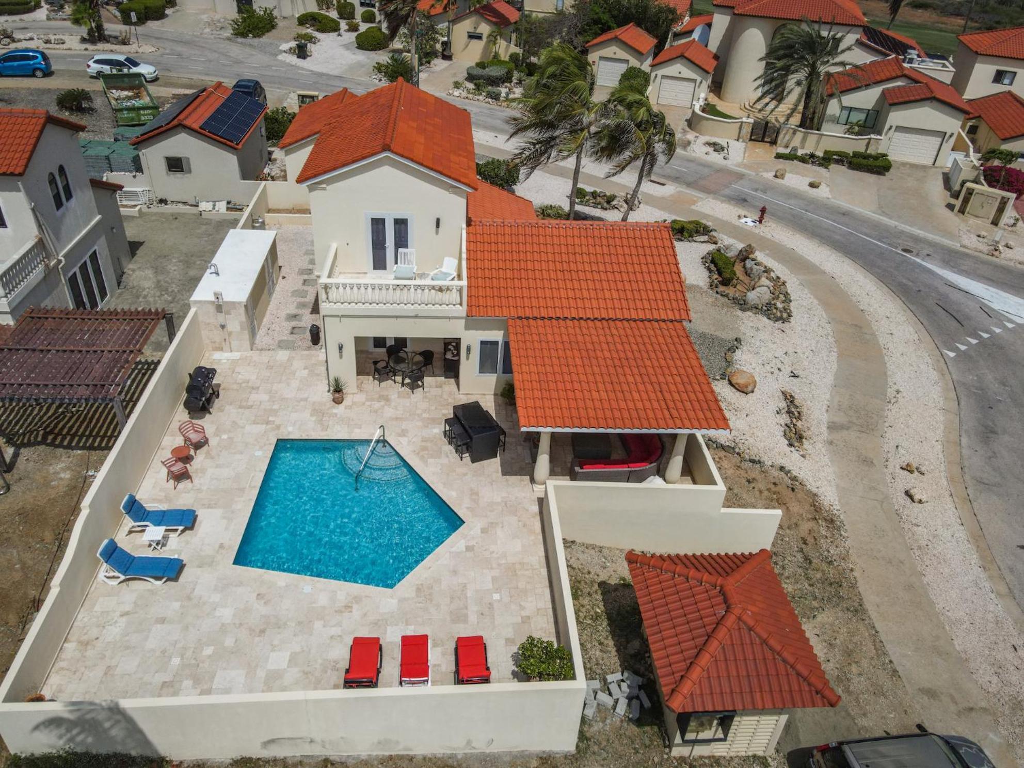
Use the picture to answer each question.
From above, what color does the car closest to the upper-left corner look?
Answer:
blue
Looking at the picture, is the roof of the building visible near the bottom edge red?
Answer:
Yes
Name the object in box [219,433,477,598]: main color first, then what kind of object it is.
blue swimming pool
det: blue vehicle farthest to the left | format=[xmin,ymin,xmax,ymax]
[0,48,57,74]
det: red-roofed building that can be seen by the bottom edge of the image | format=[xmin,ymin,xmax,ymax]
[621,547,848,758]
